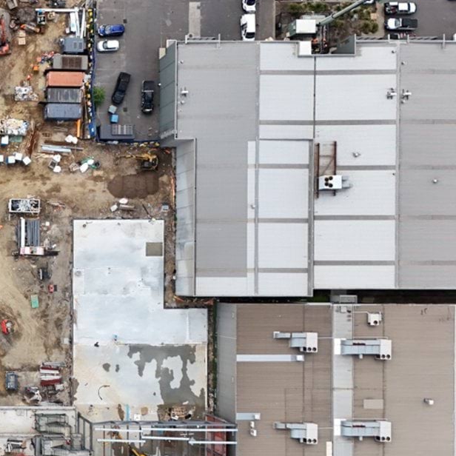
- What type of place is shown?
industrial area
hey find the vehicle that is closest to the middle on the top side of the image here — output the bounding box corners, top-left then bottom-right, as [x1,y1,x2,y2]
[113,153,162,171]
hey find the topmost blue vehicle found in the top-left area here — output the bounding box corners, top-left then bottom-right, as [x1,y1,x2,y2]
[99,23,124,37]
